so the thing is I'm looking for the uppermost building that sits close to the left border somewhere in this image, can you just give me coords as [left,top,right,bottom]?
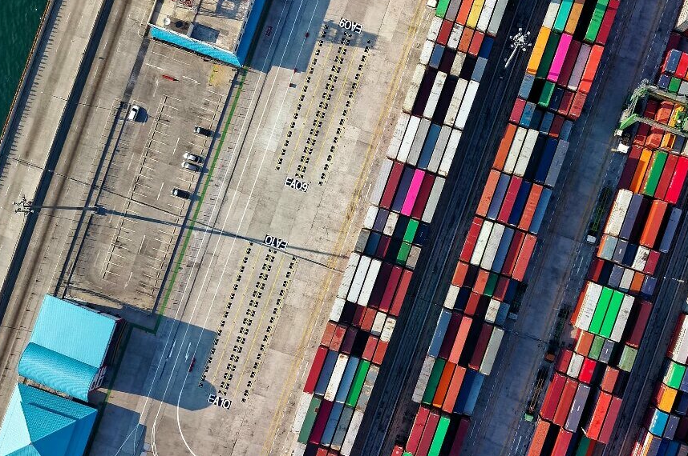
[20,294,133,404]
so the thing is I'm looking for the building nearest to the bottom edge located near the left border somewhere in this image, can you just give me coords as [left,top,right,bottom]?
[0,382,100,456]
